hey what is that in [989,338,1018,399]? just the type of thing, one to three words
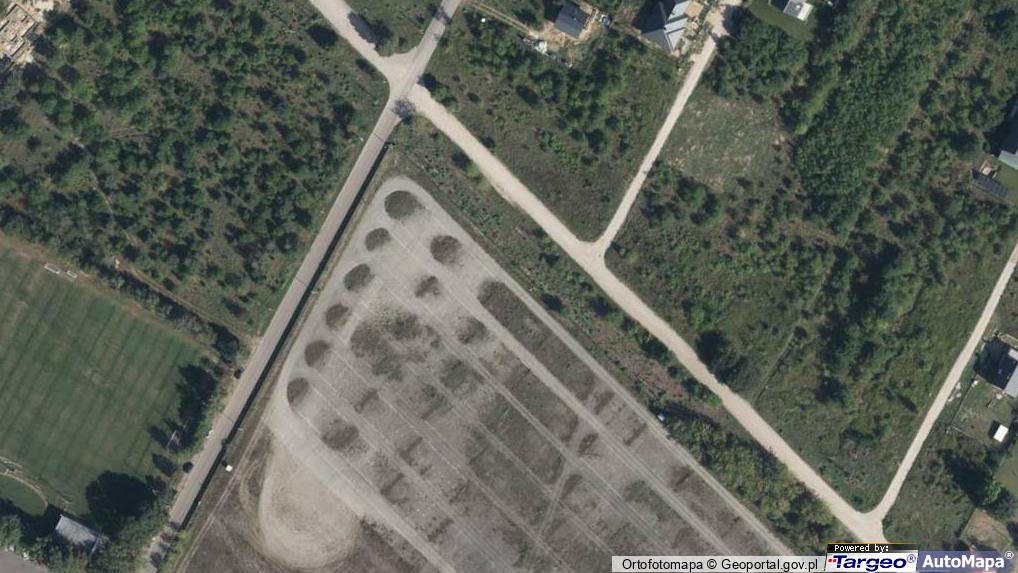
house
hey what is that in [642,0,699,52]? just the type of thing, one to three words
house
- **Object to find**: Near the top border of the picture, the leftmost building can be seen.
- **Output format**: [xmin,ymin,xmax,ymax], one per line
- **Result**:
[555,1,590,38]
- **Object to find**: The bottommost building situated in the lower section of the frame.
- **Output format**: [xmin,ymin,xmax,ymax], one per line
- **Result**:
[54,516,95,549]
